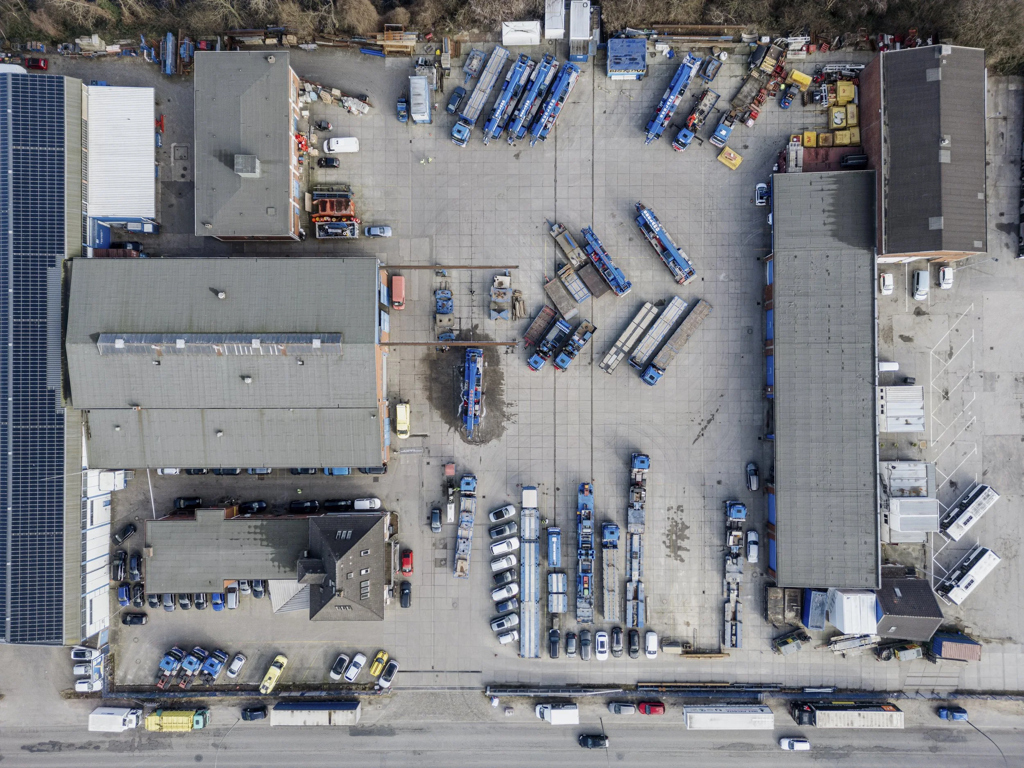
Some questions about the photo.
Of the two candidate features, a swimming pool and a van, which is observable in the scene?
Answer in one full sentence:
This aerial view contains a van.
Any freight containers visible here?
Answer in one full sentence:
Yes, you can see a freight container in this photo.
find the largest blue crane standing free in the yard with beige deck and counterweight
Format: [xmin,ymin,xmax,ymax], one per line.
[634,201,697,287]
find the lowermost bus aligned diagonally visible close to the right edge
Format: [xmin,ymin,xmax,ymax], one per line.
[939,545,1001,607]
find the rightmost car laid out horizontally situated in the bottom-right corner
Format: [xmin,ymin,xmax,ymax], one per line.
[937,706,968,721]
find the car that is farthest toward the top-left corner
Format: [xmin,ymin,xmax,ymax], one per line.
[25,56,50,71]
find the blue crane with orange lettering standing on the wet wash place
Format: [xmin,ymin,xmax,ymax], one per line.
[460,349,483,438]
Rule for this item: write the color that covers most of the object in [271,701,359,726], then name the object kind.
white trailer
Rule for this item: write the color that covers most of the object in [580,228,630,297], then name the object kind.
blue crane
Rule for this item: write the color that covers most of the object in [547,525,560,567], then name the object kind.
blue vehicle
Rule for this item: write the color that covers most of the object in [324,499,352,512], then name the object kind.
black vehicle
